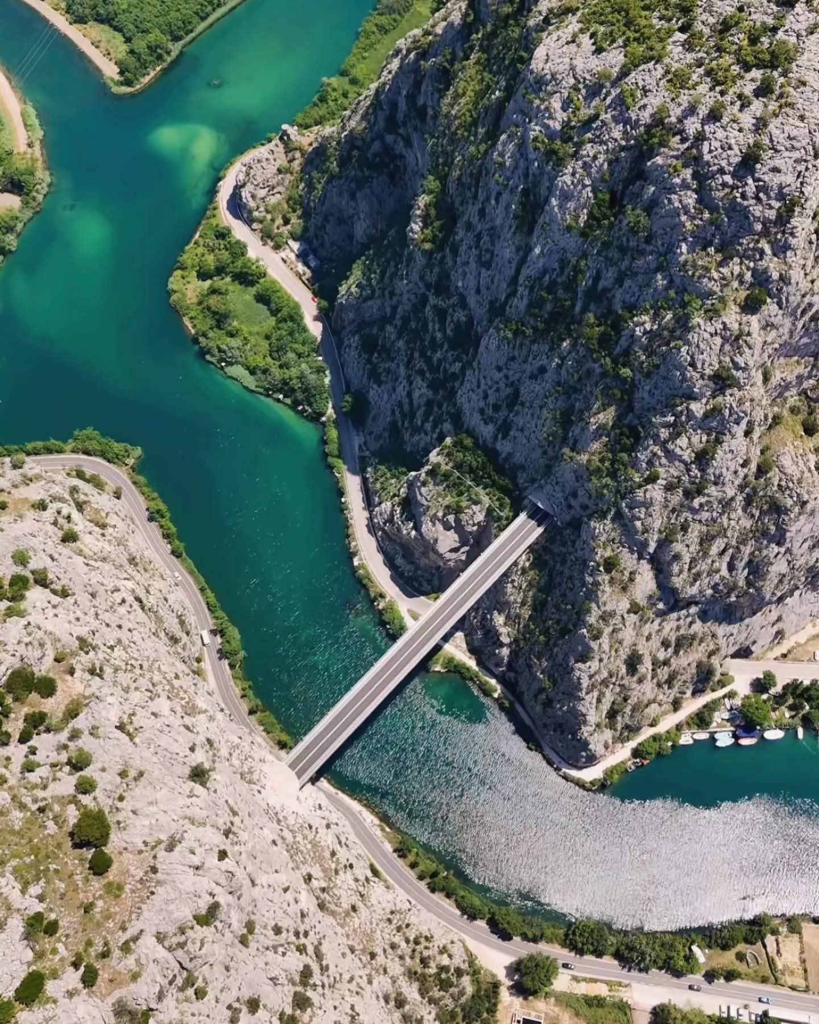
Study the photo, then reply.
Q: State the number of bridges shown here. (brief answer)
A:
one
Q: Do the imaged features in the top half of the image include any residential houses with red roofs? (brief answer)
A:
No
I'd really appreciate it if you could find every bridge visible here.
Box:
[278,507,545,786]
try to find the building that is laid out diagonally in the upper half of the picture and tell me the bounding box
[291,238,322,268]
